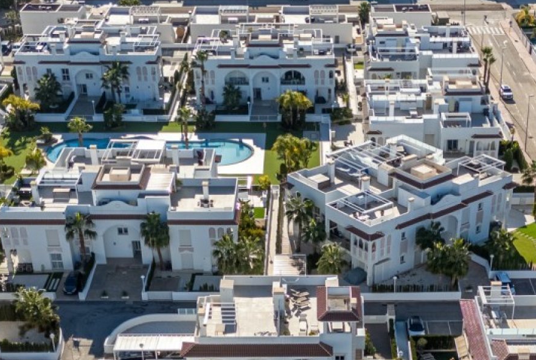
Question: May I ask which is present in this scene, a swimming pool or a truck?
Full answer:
This aerial view contains a swimming pool.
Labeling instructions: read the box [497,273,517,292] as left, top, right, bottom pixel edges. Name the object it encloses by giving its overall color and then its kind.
blue car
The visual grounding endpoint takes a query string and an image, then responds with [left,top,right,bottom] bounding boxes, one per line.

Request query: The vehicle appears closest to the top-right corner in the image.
[501,82,513,96]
